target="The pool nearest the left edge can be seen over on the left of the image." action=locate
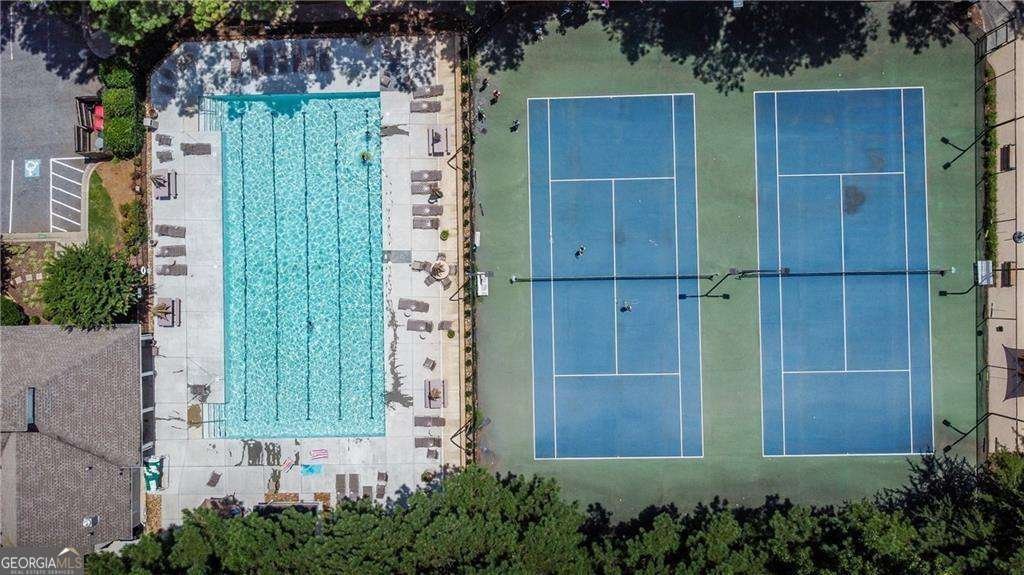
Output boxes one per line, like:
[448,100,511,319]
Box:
[199,88,389,442]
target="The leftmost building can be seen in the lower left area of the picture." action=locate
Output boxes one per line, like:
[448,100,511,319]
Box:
[0,324,154,575]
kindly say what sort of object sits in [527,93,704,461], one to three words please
tennis court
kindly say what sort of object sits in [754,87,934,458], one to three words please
tennis court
